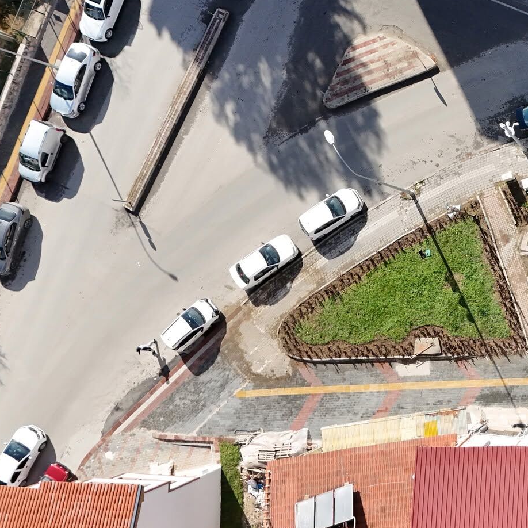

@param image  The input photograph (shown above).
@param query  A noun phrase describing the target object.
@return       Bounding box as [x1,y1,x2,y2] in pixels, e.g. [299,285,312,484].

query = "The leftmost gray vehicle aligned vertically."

[0,204,35,278]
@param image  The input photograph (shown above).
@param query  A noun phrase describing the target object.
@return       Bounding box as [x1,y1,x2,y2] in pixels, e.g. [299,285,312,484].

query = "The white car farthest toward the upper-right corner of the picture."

[296,188,365,240]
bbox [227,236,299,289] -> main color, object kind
white car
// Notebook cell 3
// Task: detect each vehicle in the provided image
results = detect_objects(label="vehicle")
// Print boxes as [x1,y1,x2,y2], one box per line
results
[51,41,105,118]
[37,464,79,485]
[17,121,68,184]
[81,0,124,43]
[227,236,299,289]
[296,188,365,240]
[154,298,223,353]
[0,426,51,484]
[0,204,35,278]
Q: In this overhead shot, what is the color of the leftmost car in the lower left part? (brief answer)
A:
white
